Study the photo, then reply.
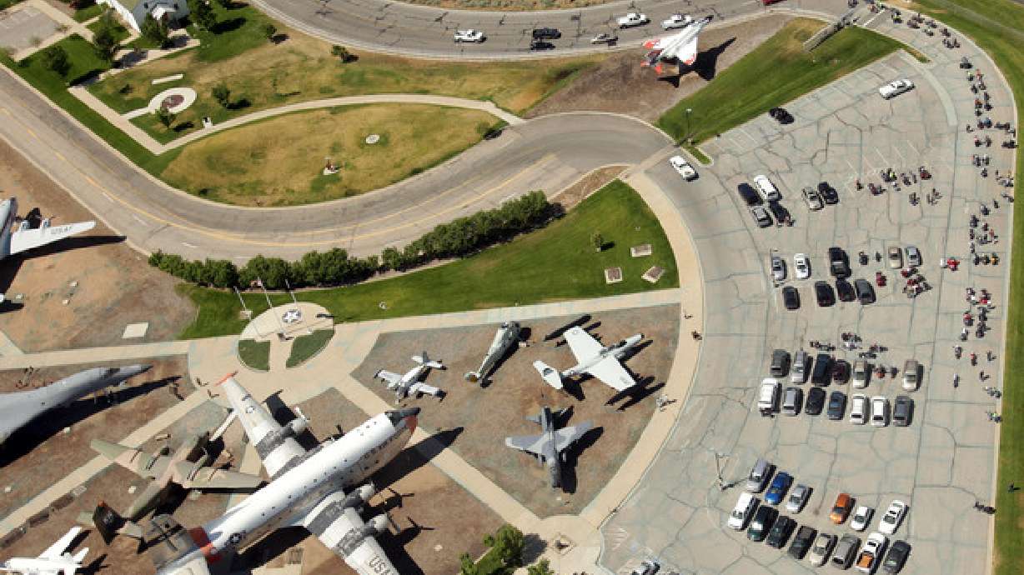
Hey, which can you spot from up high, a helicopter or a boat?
helicopter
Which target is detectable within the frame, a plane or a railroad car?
plane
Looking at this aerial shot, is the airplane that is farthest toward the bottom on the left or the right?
left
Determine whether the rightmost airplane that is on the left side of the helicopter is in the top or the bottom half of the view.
bottom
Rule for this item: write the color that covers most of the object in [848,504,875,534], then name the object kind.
white car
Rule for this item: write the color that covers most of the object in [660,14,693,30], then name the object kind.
white vehicle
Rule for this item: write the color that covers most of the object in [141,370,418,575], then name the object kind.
white airplane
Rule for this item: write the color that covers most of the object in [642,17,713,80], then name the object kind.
white airplane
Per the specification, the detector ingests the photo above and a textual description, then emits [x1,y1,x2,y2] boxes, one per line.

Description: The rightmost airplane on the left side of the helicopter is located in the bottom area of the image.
[377,351,448,403]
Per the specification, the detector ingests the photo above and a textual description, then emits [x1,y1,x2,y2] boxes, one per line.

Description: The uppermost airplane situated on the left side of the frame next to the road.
[0,196,96,301]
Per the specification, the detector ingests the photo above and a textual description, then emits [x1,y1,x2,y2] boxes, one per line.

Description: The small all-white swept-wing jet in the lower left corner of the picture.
[2,526,93,575]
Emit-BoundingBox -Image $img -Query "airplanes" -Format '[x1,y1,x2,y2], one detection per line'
[2,526,93,575]
[531,314,652,406]
[0,366,153,454]
[89,429,258,550]
[141,370,418,575]
[377,351,448,403]
[506,399,590,491]
[0,196,96,301]
[642,17,713,80]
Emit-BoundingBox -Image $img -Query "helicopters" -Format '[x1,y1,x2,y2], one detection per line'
[461,321,515,386]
